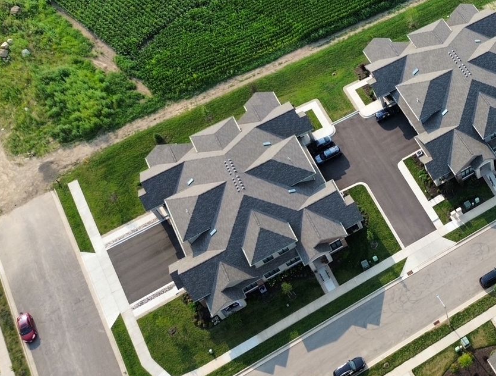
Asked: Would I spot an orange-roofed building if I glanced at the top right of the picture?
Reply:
No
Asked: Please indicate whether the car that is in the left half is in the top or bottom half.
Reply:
bottom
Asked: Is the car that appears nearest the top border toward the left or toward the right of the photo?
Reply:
right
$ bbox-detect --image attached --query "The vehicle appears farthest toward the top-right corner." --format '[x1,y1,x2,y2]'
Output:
[372,103,398,123]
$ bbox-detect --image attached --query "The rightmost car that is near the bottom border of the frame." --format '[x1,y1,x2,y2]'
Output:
[330,354,369,376]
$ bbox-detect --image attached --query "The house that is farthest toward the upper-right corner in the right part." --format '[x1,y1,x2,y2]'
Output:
[360,0,496,197]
